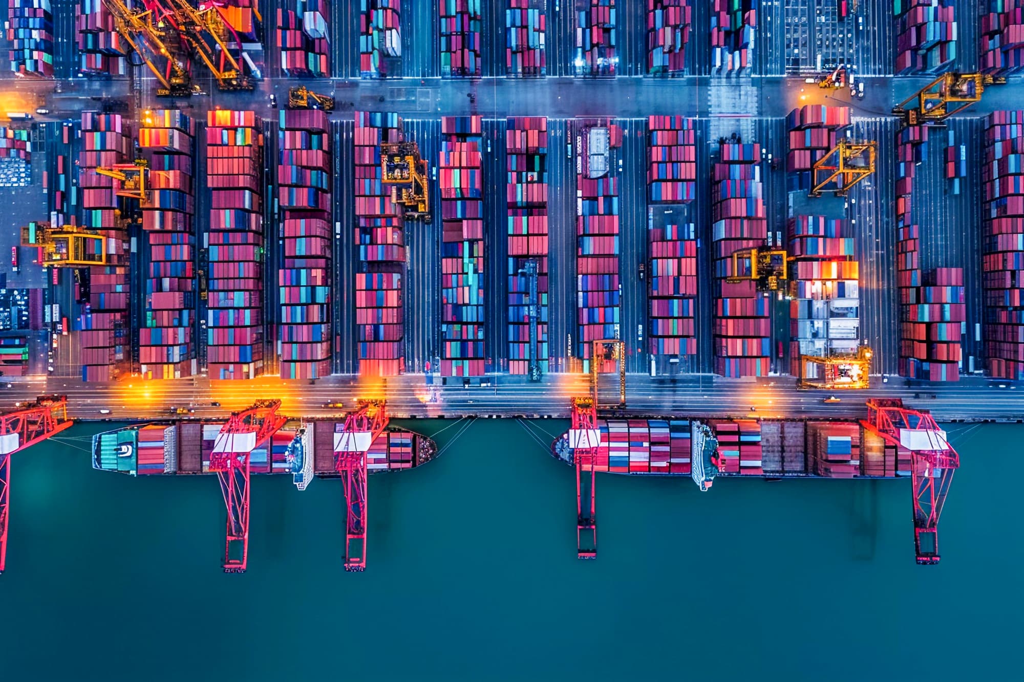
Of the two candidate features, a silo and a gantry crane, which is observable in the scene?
gantry crane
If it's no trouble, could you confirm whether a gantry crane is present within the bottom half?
Yes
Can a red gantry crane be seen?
Yes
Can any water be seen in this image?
Yes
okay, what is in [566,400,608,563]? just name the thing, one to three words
container crane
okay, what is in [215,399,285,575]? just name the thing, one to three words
container crane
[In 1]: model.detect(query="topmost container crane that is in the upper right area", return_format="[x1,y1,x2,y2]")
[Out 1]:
[894,68,982,122]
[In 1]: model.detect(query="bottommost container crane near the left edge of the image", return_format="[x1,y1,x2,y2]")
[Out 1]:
[0,399,74,575]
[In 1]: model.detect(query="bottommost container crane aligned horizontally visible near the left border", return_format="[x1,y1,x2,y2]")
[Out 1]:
[20,227,137,270]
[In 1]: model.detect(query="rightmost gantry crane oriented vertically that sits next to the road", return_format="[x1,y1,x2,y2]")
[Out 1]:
[871,399,956,570]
